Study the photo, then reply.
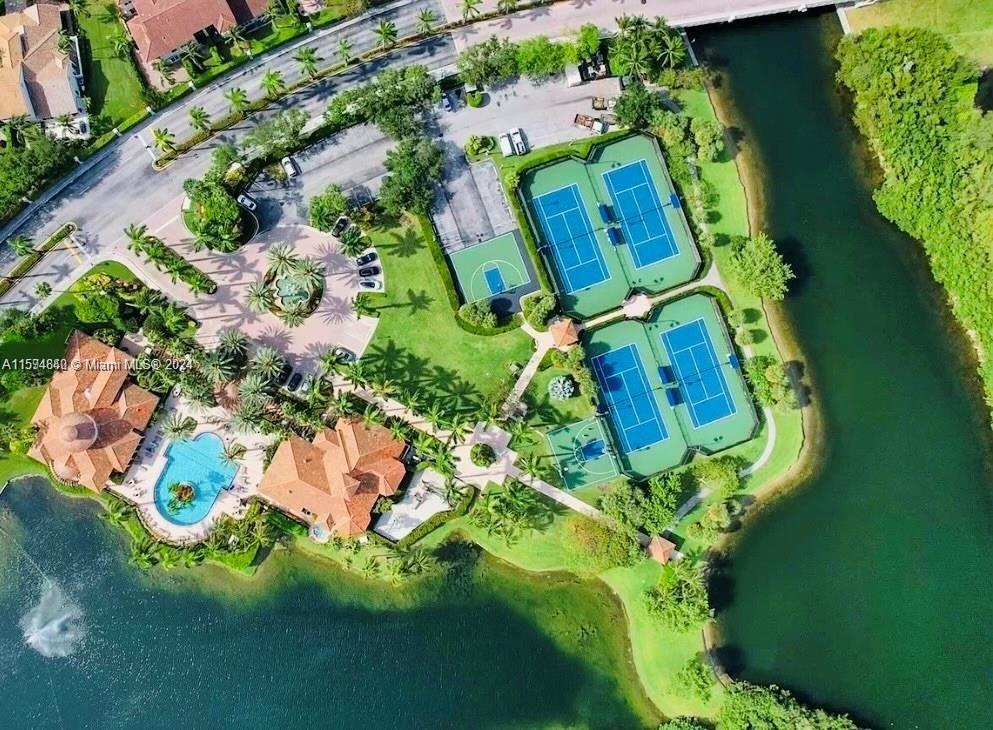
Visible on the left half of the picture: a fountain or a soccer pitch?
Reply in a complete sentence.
What appears on the left half of the picture is a fountain.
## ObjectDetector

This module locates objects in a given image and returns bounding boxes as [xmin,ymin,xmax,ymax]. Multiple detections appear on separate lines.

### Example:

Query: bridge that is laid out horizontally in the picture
[671,0,880,28]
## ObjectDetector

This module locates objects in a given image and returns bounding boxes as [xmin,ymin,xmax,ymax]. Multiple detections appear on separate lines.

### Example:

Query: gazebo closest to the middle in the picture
[550,318,579,347]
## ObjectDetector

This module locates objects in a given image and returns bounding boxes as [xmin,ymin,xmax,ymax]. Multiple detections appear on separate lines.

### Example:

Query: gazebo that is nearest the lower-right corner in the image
[646,532,677,562]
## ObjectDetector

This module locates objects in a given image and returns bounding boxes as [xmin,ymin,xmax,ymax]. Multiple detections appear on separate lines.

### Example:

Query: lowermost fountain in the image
[26,563,105,653]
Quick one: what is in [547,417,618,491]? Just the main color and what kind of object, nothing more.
green basketball court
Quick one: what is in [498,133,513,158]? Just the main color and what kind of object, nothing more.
white vehicle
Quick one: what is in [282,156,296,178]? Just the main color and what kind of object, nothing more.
white vehicle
